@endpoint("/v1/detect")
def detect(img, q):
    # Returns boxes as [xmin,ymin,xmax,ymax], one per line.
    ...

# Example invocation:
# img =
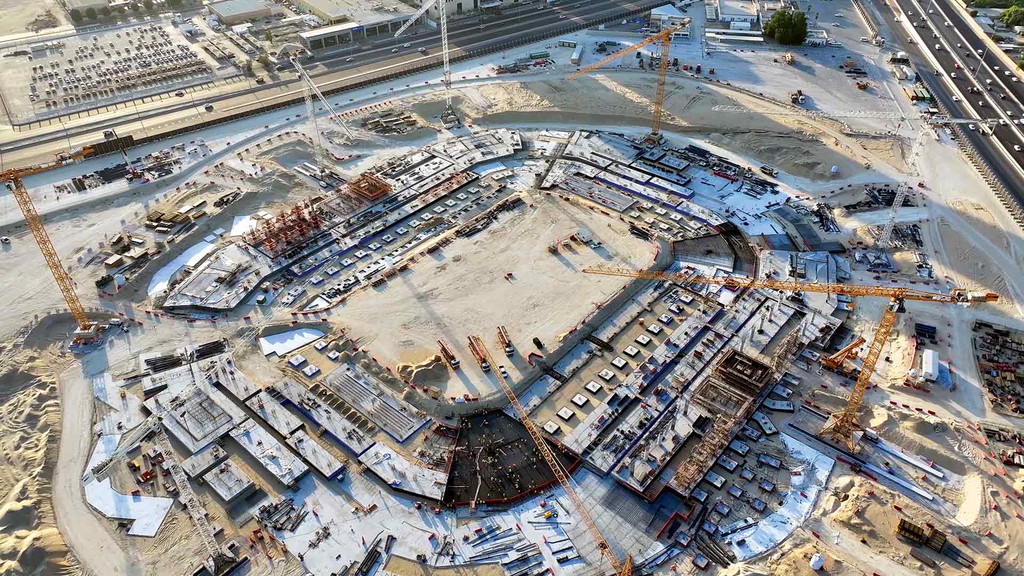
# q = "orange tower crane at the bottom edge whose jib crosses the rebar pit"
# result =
[469,335,636,576]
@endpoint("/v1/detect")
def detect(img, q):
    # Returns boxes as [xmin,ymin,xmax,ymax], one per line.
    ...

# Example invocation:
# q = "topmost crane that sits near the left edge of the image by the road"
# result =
[0,161,101,349]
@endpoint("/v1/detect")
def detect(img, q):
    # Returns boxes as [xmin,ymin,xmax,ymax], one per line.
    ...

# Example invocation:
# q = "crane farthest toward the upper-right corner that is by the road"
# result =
[713,107,1002,272]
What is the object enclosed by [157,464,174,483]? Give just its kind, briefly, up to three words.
work vehicle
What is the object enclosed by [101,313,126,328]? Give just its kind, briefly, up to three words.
vehicle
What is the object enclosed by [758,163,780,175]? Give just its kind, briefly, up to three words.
vehicle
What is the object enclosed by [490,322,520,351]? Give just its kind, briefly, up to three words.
truck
